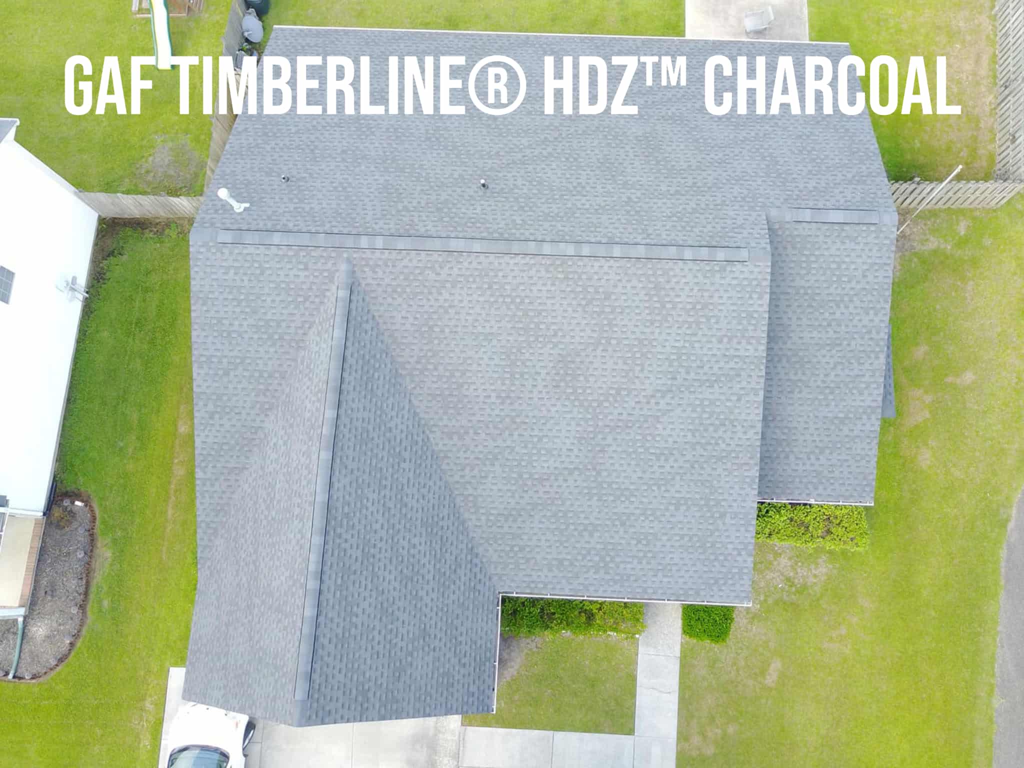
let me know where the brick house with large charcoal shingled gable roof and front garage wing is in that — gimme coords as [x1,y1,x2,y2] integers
[181,24,901,727]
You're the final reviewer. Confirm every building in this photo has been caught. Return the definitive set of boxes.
[181,24,901,727]
[0,124,101,620]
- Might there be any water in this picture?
No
